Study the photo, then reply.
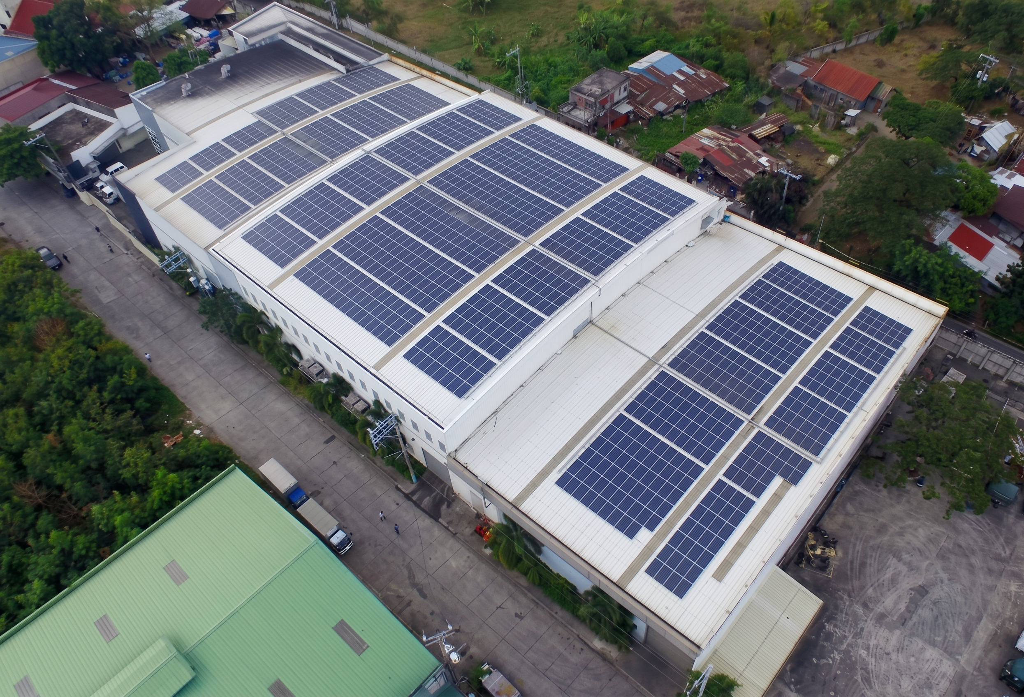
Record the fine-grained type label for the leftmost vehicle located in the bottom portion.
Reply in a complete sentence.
I'd identify the leftmost vehicle located in the bottom portion as a truck.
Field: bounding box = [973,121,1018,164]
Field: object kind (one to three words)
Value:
shed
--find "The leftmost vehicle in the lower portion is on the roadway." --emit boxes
[258,458,312,514]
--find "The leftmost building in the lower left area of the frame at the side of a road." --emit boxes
[0,462,439,697]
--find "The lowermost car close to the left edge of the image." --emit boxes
[36,247,65,269]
